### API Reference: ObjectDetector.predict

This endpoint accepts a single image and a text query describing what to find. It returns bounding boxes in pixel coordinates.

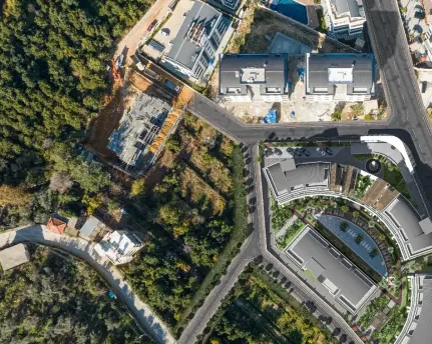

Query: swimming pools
[315,213,387,278]
[269,0,308,26]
